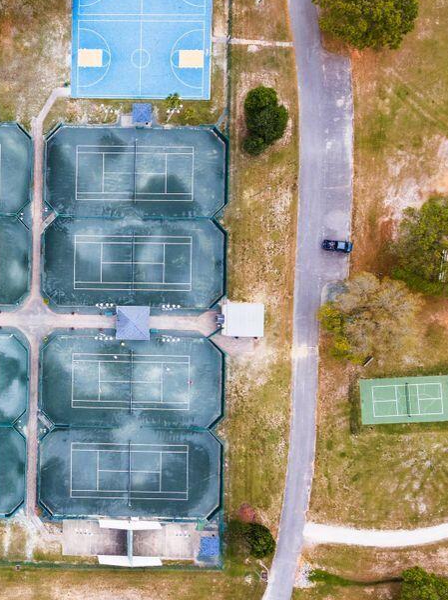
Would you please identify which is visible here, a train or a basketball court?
basketball court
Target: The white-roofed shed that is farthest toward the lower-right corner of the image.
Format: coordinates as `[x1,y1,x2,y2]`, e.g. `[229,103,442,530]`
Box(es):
[220,302,265,338]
